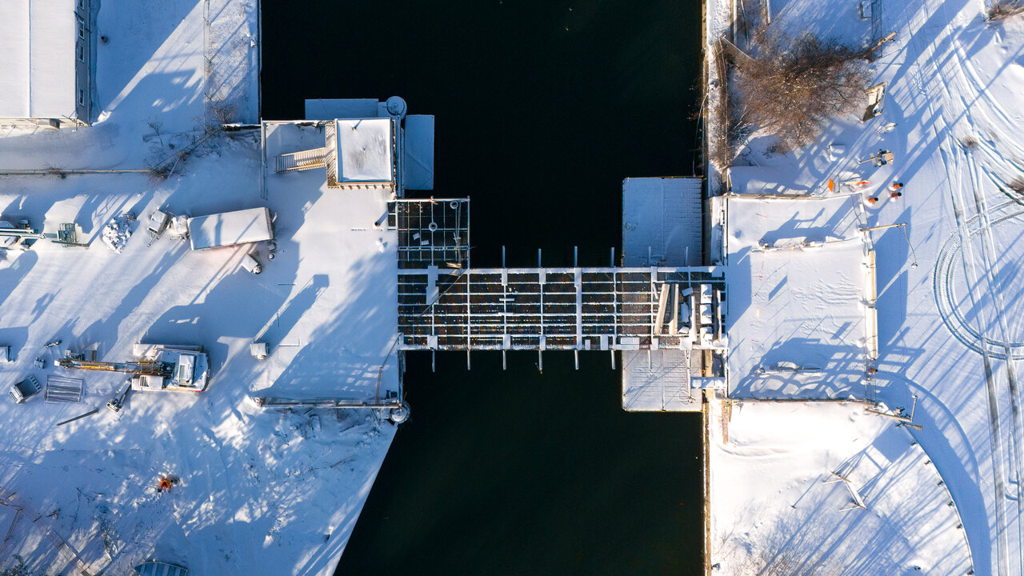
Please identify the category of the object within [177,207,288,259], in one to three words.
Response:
truck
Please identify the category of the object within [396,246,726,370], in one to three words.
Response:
bridge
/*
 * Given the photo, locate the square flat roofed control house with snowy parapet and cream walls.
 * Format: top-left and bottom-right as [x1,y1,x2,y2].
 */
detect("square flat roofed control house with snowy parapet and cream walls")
[271,118,396,189]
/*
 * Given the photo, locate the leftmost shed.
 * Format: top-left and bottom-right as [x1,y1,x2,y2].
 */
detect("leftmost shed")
[0,0,92,149]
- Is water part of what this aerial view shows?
Yes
